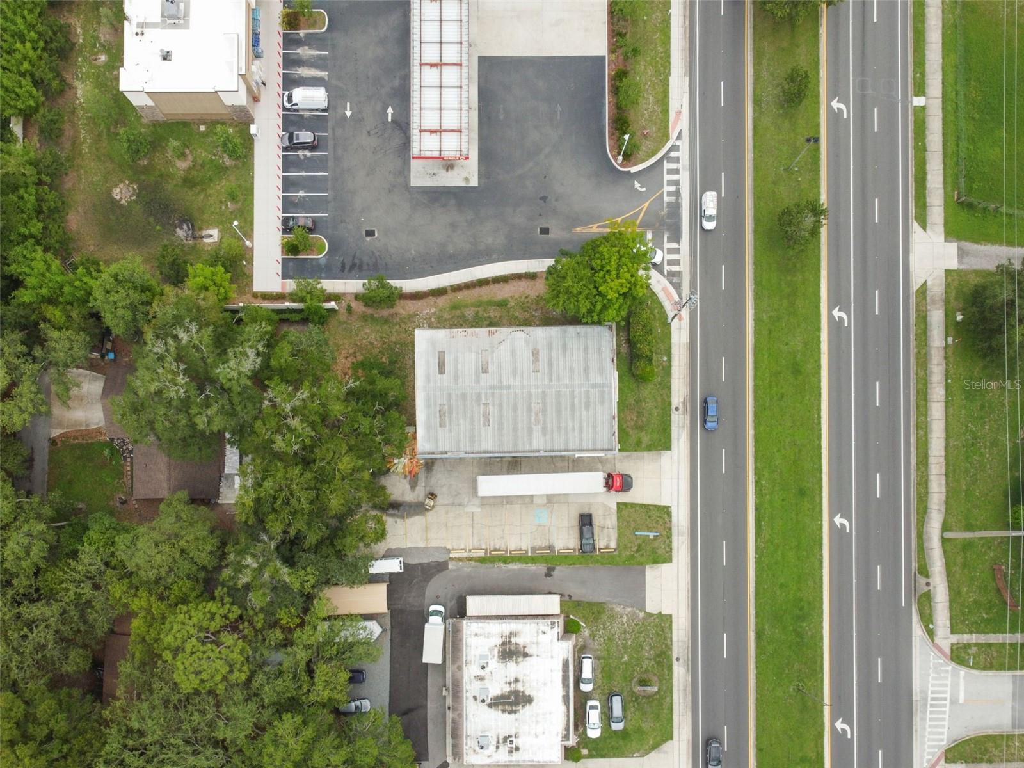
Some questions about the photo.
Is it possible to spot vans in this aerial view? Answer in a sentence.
Yes, there's a van down there.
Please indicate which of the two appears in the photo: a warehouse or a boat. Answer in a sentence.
The image shows a warehouse.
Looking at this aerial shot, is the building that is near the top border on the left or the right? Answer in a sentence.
The building that is near the top border appears in the left half of the scene.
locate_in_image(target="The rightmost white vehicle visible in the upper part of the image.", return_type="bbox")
[700,188,719,232]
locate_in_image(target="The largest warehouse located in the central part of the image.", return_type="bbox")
[414,322,619,460]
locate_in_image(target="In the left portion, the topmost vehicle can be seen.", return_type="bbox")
[284,83,328,111]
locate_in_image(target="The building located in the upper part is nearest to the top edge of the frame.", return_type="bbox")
[120,0,258,121]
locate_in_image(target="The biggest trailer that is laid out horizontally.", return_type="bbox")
[477,472,602,497]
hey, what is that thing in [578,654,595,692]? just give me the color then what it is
white car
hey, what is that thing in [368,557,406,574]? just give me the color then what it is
white vehicle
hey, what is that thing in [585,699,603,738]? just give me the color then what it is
white car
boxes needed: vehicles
[702,396,719,431]
[281,130,318,152]
[700,188,719,232]
[422,603,445,665]
[602,470,633,493]
[282,214,317,233]
[342,669,371,685]
[338,696,372,714]
[578,654,595,692]
[578,512,597,553]
[424,491,439,510]
[284,83,328,111]
[608,692,626,730]
[368,557,406,574]
[585,699,603,738]
[705,737,724,768]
